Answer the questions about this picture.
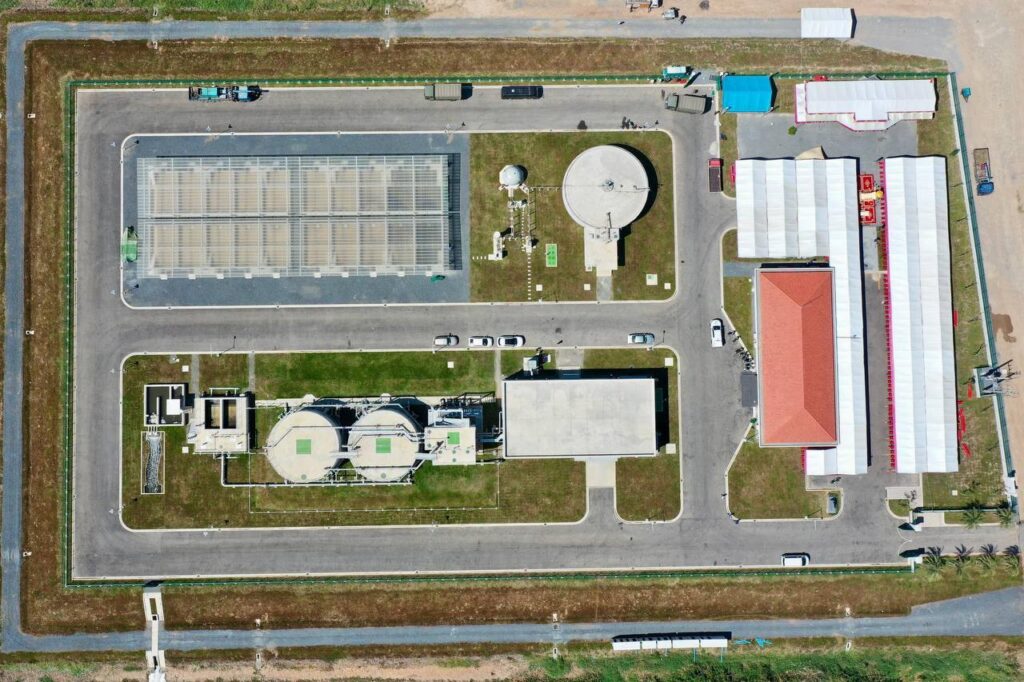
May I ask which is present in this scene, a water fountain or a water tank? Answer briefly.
water tank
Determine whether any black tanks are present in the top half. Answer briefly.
No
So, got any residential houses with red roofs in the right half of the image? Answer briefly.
Yes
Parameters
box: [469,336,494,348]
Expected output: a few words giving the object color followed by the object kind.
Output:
white vehicle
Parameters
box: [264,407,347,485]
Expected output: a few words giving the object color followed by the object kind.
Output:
white storage tank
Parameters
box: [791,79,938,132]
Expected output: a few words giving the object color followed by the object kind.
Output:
white tent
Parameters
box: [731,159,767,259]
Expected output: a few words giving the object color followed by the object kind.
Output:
white tent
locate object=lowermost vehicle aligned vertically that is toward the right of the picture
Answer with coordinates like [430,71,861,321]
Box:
[709,319,722,347]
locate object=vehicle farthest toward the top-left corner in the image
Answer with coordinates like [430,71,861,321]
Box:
[187,84,229,101]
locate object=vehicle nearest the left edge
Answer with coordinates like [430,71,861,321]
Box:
[122,227,139,260]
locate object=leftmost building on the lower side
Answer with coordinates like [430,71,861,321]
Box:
[425,392,503,465]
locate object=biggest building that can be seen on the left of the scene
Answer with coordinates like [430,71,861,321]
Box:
[136,154,449,279]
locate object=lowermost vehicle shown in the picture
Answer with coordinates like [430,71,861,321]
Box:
[779,554,808,567]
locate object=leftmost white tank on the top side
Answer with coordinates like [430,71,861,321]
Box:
[499,165,531,199]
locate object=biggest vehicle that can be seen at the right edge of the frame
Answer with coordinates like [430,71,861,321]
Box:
[972,149,993,193]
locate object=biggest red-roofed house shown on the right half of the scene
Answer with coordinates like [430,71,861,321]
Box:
[737,266,840,448]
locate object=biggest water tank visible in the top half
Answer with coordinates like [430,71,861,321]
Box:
[562,144,651,277]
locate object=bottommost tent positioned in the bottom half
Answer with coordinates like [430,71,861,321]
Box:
[799,447,837,476]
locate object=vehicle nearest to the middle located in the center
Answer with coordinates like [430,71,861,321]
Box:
[498,336,524,348]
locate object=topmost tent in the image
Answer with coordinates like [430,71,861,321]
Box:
[795,8,852,45]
